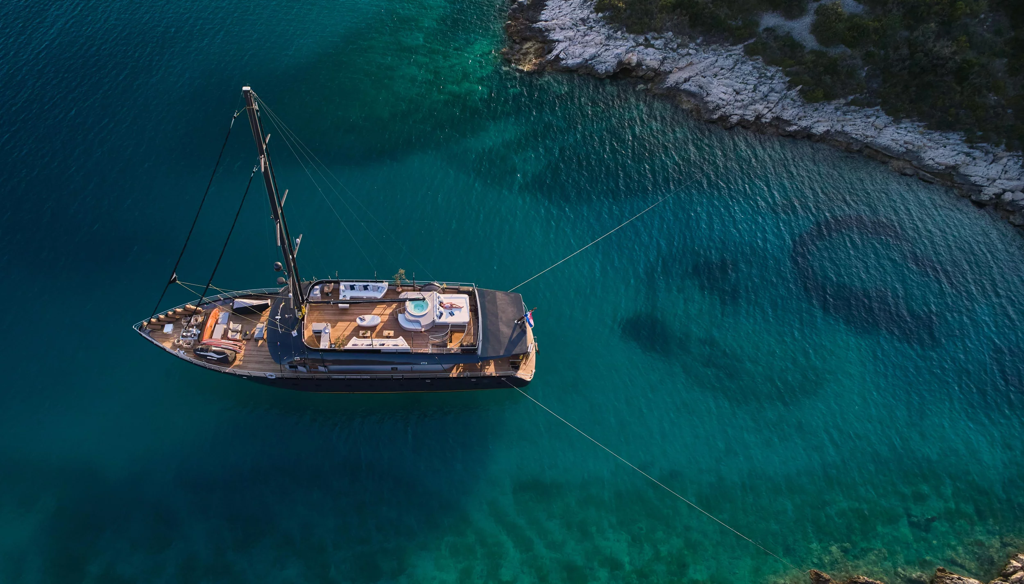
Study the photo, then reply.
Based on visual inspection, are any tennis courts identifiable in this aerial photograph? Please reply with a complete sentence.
No, the scene contains no tennis court.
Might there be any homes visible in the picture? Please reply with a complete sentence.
No, I can see no home in this picture.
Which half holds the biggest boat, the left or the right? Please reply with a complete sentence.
The biggest boat sits on the left side.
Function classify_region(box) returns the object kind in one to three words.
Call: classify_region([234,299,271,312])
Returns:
boat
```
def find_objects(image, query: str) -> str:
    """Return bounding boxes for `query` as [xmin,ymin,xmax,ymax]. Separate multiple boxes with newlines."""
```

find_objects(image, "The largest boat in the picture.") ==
[136,80,541,394]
